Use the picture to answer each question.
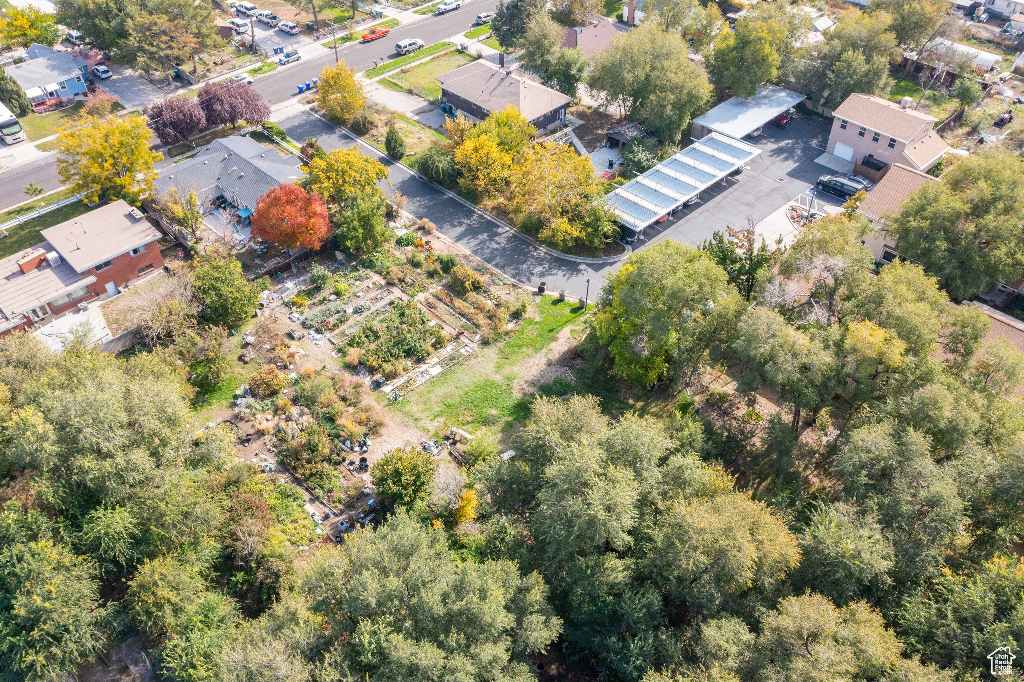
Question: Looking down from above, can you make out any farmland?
No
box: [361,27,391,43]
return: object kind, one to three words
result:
car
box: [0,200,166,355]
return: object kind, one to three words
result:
house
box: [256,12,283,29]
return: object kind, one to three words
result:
vehicle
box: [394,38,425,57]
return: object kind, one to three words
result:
car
